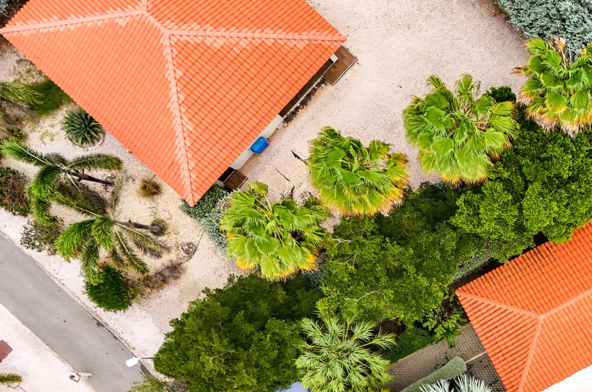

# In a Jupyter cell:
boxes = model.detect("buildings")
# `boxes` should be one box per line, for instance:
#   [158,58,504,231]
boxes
[0,0,360,207]
[454,216,592,392]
